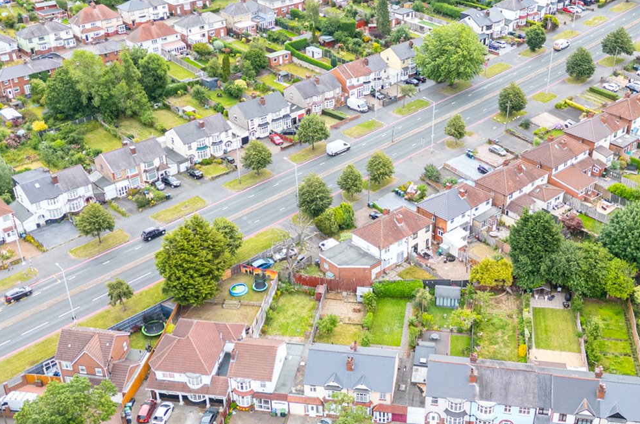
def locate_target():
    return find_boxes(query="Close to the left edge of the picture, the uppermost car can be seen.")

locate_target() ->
[1,286,34,304]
